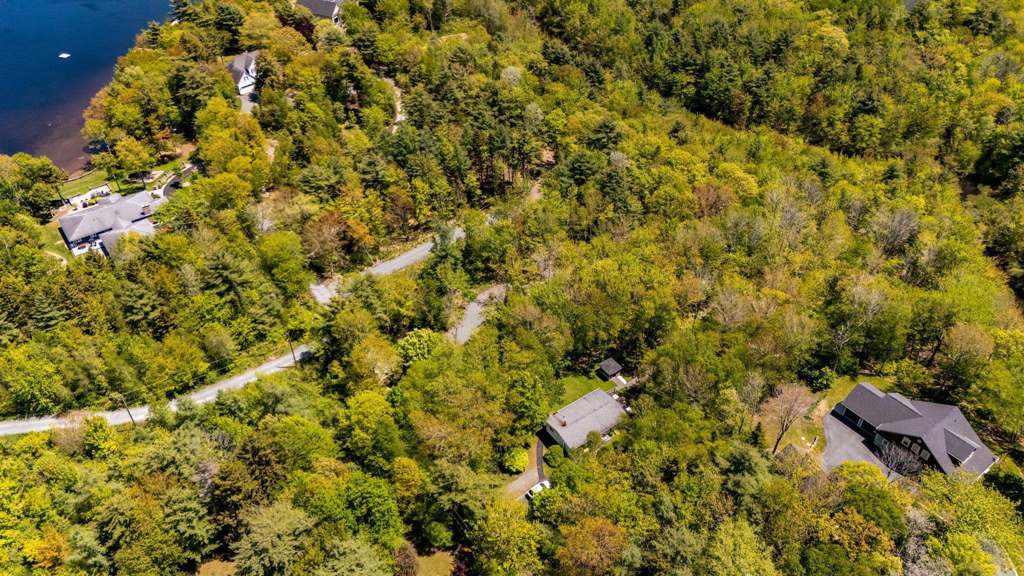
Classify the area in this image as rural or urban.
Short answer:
rural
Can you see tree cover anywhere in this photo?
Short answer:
Yes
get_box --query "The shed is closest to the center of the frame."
[598,358,622,384]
